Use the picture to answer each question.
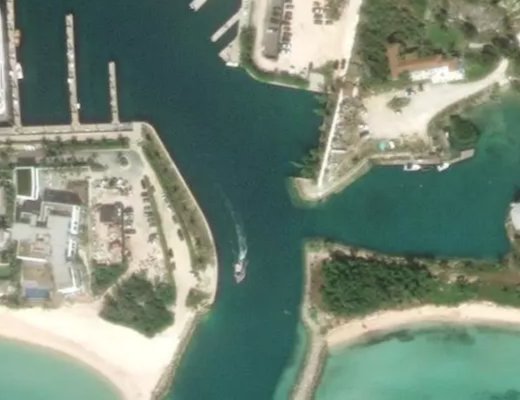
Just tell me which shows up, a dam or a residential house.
residential house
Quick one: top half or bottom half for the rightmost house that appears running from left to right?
top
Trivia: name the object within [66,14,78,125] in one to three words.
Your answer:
pier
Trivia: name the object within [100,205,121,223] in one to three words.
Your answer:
shed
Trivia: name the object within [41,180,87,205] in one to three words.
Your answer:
building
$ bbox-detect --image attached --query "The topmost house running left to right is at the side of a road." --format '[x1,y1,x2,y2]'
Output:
[388,44,464,83]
